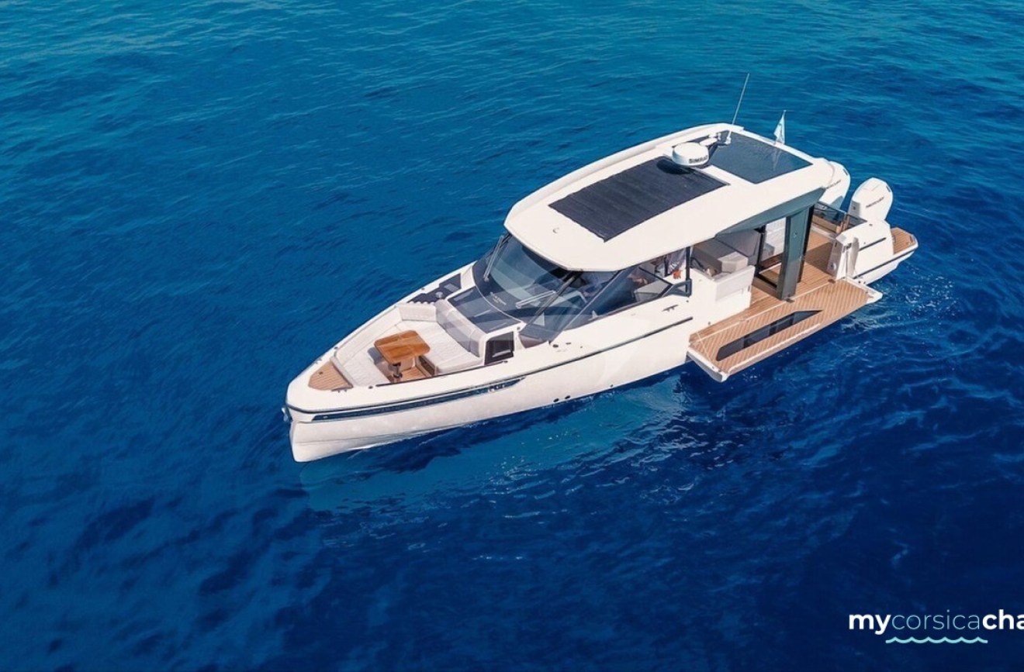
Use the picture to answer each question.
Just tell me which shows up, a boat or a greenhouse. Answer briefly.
boat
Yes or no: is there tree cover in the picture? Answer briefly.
No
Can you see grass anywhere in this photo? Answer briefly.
No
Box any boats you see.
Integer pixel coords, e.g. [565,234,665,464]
[279,74,917,462]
